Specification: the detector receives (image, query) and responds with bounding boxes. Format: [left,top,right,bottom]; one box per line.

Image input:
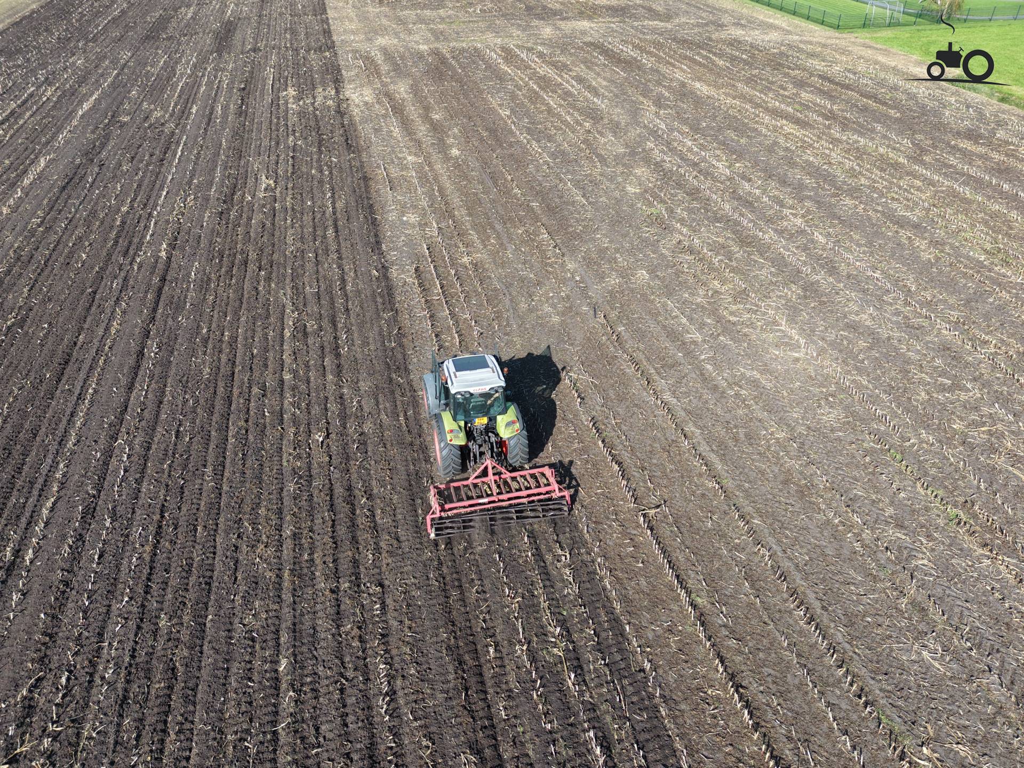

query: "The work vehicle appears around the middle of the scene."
[423,343,530,477]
